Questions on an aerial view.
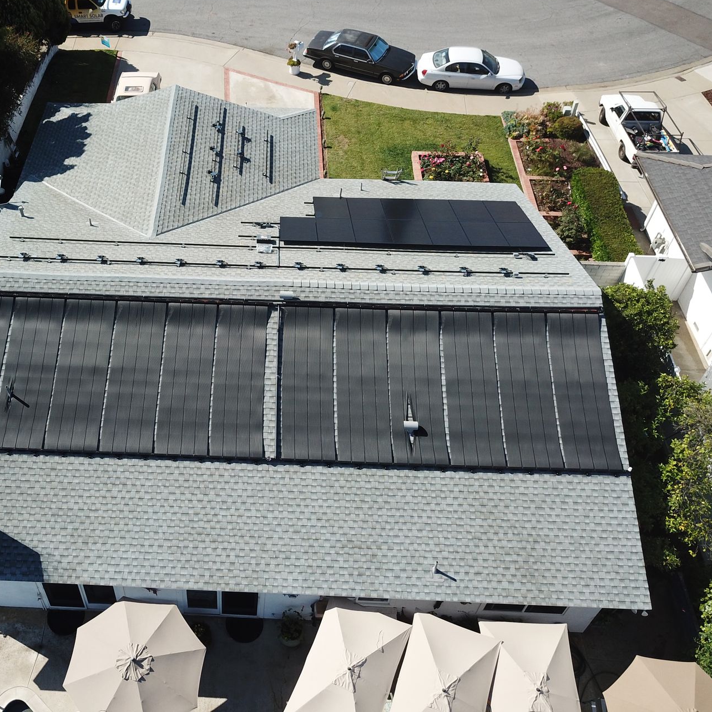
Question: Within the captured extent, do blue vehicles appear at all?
No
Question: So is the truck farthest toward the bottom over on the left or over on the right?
right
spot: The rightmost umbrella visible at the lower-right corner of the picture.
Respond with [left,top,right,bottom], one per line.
[603,655,712,712]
